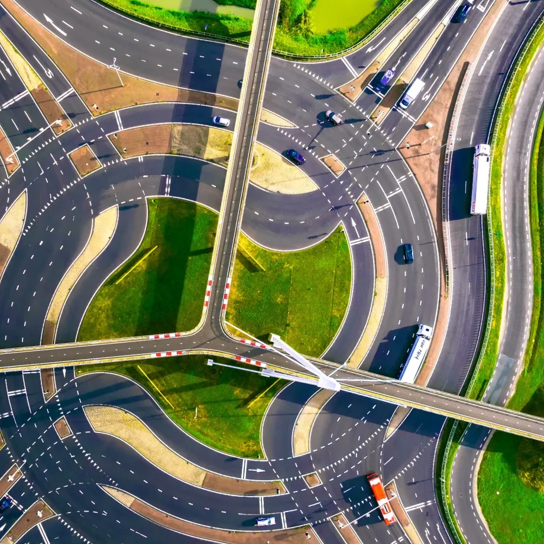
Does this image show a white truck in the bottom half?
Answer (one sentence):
Yes, in the bottom half there is a white truck.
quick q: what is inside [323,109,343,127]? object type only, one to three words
car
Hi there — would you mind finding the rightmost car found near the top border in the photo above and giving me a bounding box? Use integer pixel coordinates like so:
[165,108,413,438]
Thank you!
[455,0,471,21]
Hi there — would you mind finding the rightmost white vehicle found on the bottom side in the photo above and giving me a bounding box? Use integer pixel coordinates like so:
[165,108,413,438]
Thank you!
[395,328,430,383]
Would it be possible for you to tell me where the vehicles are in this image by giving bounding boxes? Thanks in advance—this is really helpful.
[367,471,396,526]
[455,0,471,21]
[470,146,489,216]
[211,115,230,126]
[255,516,275,526]
[286,149,305,164]
[323,109,343,127]
[403,244,412,263]
[395,328,430,383]
[400,79,423,107]
[0,494,12,512]
[377,66,395,90]
[233,79,244,88]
